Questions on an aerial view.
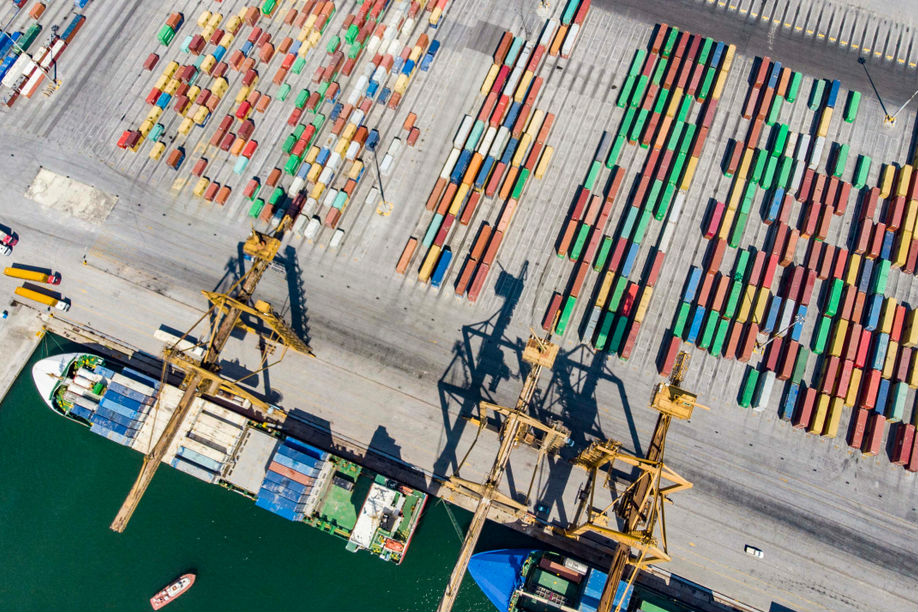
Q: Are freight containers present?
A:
Yes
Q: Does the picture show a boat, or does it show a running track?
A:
boat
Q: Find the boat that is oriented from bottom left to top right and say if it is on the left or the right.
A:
left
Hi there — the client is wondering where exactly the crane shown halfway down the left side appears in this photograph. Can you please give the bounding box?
[102,205,310,536]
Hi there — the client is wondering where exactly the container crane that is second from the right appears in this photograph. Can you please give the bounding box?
[432,311,563,612]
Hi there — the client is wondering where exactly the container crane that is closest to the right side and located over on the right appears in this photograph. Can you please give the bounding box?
[550,360,712,612]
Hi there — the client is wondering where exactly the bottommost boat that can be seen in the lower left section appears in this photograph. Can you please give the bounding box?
[149,574,195,610]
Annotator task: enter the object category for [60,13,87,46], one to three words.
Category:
shipping container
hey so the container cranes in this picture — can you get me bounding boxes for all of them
[550,360,712,612]
[102,205,310,536]
[432,311,563,612]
